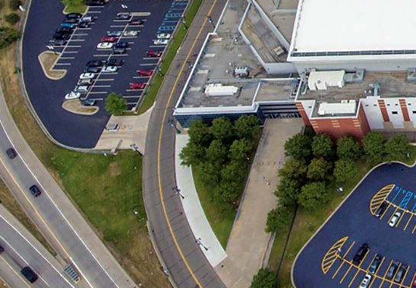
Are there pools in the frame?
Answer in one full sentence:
No, no pool is visible in the scene.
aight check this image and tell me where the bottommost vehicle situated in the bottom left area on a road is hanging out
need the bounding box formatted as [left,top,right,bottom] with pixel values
[19,266,36,283]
